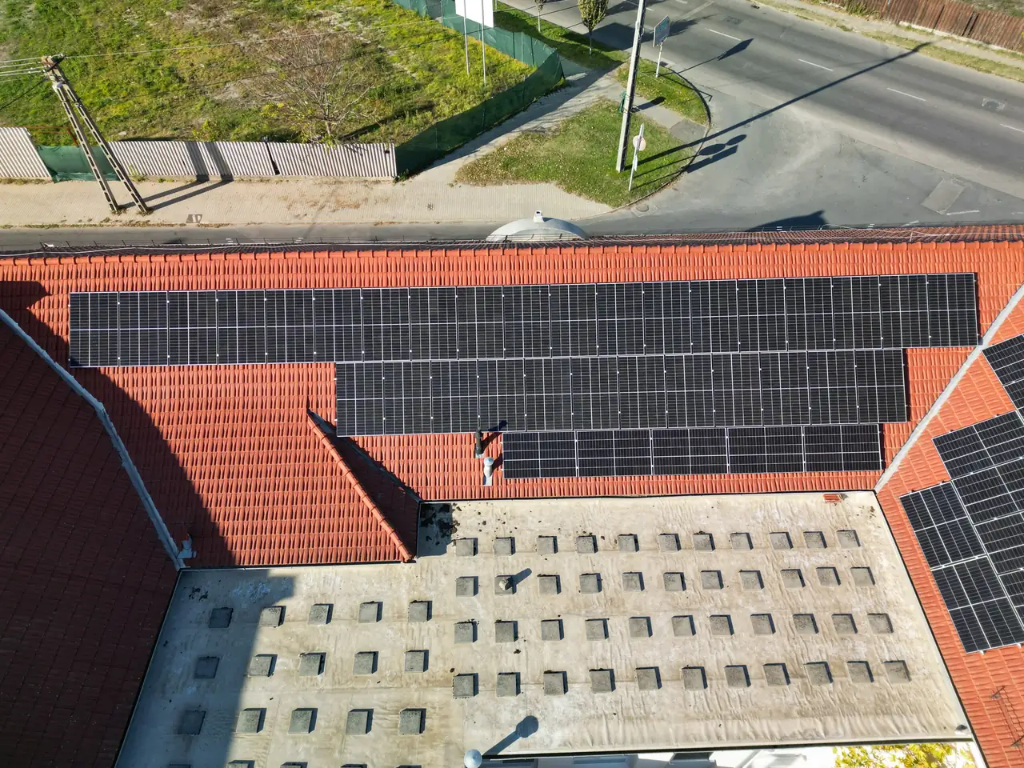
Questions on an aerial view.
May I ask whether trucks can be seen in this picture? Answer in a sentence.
No, this view has no truck in it.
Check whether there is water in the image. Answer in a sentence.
No, there is no water in the image.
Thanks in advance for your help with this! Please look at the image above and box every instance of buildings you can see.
[0,209,1024,768]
